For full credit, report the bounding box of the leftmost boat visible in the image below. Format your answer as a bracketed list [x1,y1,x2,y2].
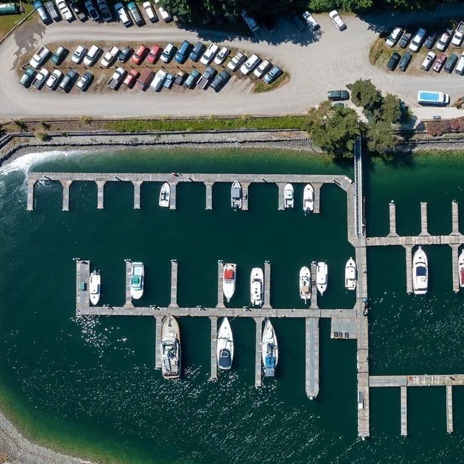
[89,272,102,305]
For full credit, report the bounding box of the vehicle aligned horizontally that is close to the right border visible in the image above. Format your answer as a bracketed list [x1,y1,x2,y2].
[417,93,449,105]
